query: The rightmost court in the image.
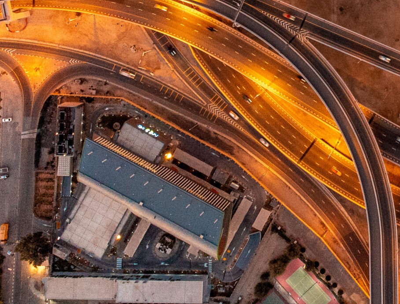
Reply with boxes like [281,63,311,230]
[274,258,339,304]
